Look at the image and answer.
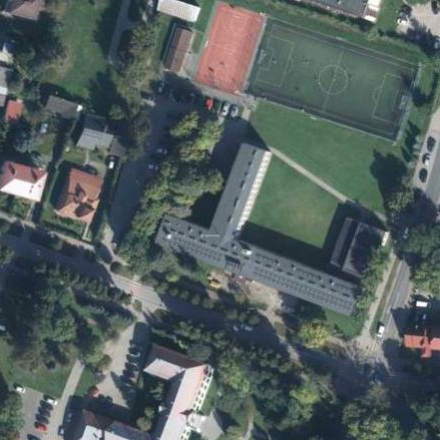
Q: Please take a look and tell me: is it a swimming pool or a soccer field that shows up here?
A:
soccer field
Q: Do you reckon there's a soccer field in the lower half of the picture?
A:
No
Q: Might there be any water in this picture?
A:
No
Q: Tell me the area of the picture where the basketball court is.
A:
top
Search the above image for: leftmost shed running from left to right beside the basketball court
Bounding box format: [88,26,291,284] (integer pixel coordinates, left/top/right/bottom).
[156,0,202,23]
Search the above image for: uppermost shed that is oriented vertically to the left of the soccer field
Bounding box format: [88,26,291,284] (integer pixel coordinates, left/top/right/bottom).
[164,24,194,74]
